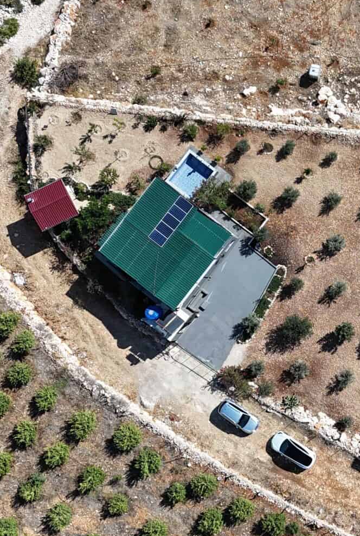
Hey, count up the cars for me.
2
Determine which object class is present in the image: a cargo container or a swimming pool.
swimming pool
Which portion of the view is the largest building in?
center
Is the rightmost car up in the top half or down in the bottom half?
bottom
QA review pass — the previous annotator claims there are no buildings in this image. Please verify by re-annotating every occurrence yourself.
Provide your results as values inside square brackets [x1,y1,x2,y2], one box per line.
[95,176,240,318]
[24,179,81,231]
